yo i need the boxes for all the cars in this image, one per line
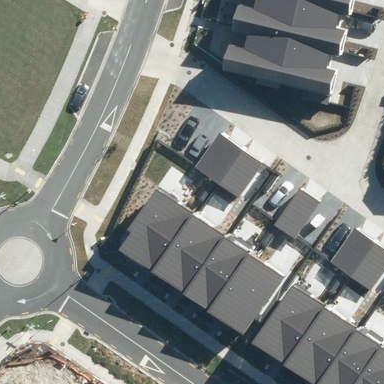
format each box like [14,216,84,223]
[176,117,197,150]
[188,134,208,160]
[68,84,89,114]
[266,180,291,210]
[343,17,376,34]
[322,223,348,255]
